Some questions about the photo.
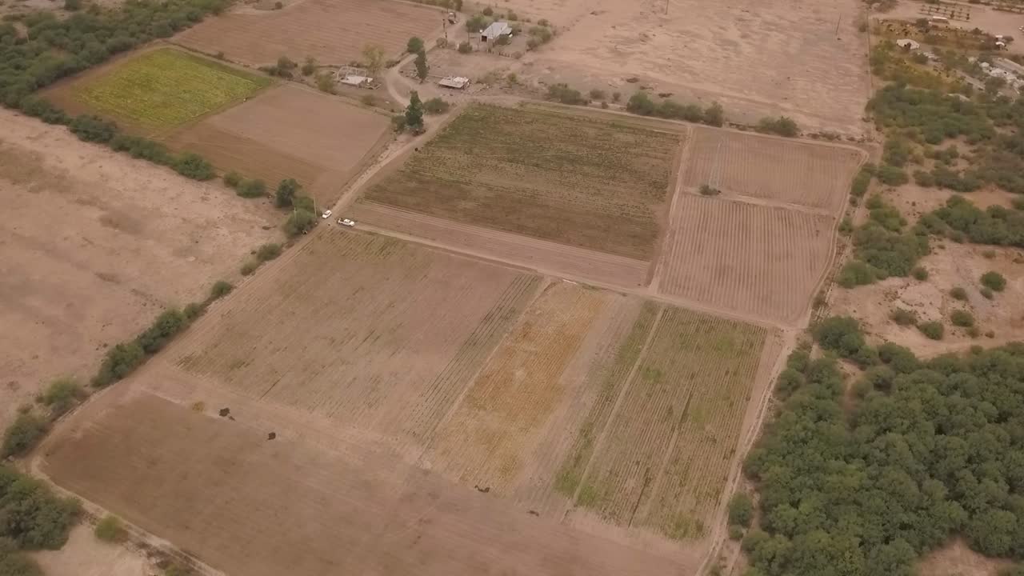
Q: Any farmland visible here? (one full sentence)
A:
Yes, farmland can be seen from above here.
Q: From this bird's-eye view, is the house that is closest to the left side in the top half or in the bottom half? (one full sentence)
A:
It is in the top half that the house that is closest to the left side appears.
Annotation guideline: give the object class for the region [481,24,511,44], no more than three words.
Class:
shed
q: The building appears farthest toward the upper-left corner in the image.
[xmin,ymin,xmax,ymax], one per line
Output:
[337,66,378,87]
